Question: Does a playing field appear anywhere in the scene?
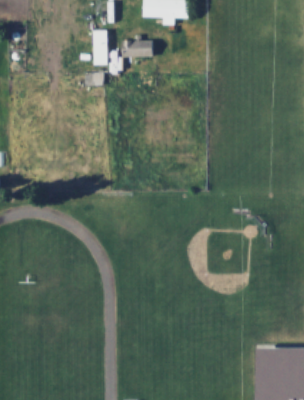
Yes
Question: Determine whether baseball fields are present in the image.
Yes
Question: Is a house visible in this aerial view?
Yes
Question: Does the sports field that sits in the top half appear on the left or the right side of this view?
right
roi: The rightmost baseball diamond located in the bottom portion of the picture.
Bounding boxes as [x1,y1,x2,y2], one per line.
[188,224,257,294]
